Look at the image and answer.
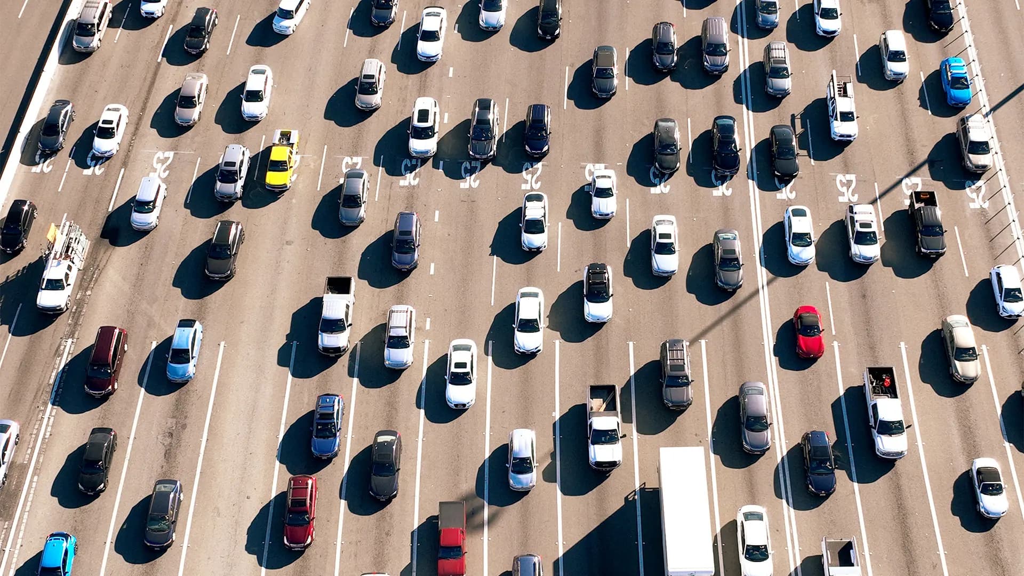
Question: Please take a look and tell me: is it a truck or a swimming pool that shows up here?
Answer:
truck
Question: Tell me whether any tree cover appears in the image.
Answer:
No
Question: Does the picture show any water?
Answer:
No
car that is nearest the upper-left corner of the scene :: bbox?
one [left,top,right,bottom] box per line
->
[73,0,111,54]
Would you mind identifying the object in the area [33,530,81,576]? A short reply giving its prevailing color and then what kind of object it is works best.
blue car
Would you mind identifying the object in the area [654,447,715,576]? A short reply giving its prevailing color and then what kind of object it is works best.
white truck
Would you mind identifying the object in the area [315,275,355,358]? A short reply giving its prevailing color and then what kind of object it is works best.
white truck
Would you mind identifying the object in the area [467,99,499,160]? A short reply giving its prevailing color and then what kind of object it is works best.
black car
